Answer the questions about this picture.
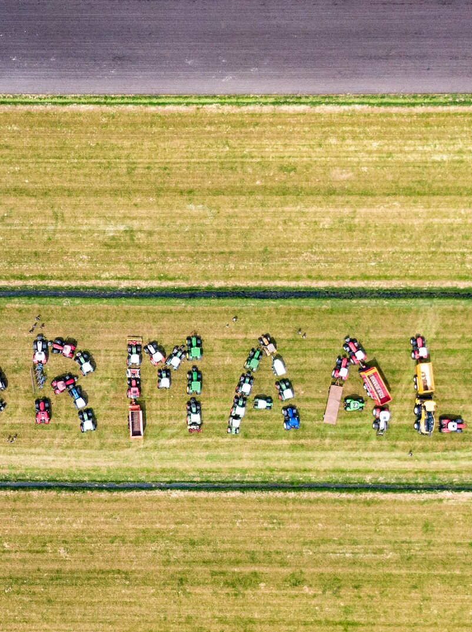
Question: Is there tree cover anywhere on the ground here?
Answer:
No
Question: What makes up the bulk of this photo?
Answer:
grass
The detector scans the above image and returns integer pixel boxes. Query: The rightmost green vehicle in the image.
[343,399,366,412]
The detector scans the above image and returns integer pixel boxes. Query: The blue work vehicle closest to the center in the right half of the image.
[282,404,300,429]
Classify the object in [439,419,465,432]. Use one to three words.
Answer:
vehicle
